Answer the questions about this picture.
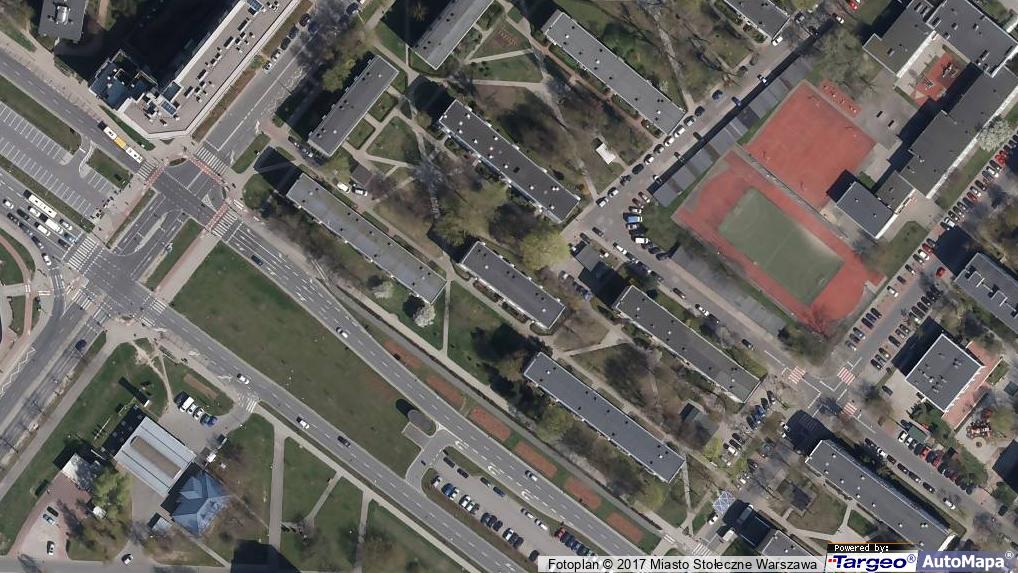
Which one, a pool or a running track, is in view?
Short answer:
running track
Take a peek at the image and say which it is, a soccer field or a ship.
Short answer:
soccer field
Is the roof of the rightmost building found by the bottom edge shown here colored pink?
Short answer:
No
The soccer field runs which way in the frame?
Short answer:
at an angle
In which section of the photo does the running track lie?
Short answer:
right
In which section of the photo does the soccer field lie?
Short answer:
right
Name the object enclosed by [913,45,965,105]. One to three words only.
playground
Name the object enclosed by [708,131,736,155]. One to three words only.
building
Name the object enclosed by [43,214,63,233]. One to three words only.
vehicle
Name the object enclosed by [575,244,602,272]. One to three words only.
shed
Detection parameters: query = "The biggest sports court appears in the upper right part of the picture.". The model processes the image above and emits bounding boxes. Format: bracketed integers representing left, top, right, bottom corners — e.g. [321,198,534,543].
[745,80,877,211]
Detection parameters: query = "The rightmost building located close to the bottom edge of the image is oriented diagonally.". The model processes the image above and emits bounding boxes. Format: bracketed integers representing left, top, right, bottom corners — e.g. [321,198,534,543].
[805,441,947,558]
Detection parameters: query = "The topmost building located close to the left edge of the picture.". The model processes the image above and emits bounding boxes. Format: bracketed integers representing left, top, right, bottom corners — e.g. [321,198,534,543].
[39,0,87,42]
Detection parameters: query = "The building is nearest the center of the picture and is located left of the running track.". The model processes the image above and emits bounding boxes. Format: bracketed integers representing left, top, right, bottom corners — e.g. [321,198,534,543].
[461,241,567,329]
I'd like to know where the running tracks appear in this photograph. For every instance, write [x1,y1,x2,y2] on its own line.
[672,151,888,339]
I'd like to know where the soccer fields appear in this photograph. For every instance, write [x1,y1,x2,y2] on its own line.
[719,188,843,303]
